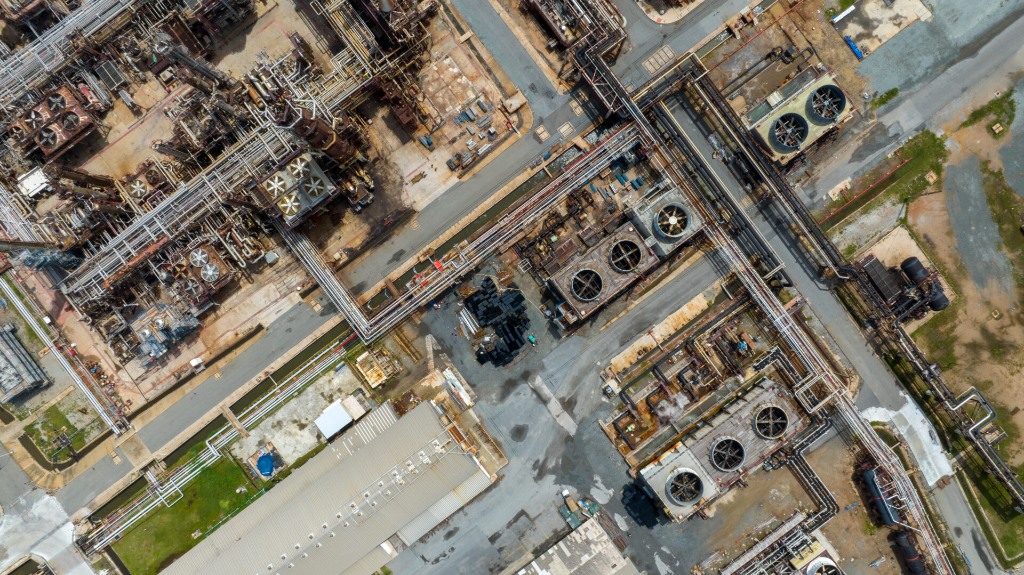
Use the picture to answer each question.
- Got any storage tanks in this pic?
Yes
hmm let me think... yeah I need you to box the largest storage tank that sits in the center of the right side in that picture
[895,257,950,310]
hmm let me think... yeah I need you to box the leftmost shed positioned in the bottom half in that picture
[0,321,60,406]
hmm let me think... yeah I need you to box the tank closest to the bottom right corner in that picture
[889,530,930,575]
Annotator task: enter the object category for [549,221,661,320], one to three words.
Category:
cooling tower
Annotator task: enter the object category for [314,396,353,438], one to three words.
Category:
shed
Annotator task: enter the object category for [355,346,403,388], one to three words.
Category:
shed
